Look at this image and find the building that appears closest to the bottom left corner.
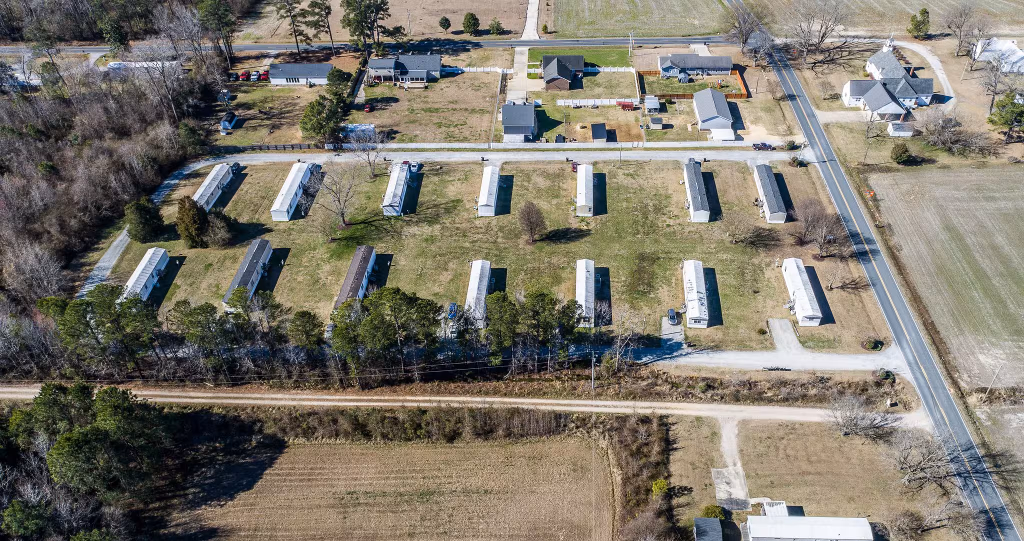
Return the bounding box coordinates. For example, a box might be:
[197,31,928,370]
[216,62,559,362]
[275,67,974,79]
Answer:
[116,247,168,314]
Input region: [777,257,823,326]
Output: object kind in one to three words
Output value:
house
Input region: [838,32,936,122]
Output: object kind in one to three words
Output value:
building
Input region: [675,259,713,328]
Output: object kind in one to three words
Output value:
house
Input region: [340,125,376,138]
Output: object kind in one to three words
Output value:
shed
